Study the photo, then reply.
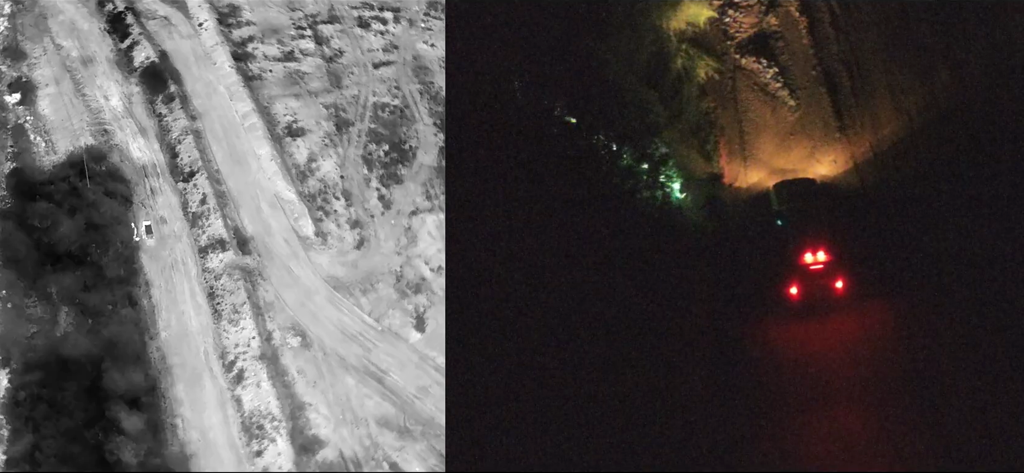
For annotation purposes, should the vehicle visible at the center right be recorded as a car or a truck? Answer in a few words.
car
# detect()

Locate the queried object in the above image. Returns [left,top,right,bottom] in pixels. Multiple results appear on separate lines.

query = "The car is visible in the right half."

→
[765,181,846,302]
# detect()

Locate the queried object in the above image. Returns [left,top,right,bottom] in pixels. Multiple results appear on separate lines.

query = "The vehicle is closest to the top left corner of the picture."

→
[143,217,156,241]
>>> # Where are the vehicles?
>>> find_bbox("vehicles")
[765,181,846,302]
[143,217,156,241]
